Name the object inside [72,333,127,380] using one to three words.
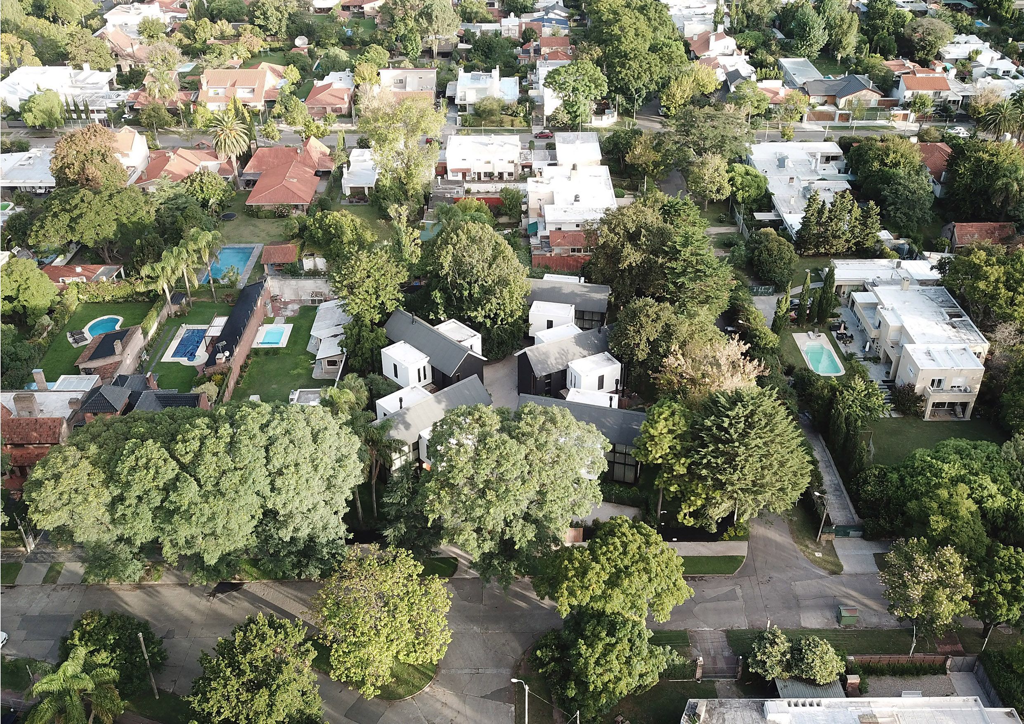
shed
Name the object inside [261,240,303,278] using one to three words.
building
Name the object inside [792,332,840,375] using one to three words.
swimming pool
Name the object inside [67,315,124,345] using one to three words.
swimming pool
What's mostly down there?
trees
